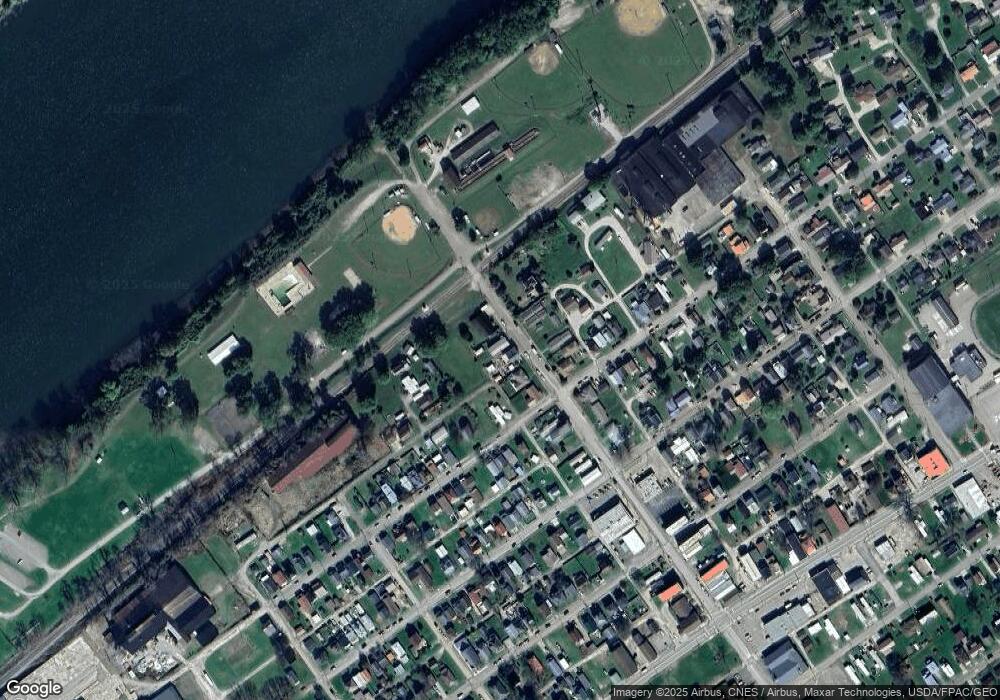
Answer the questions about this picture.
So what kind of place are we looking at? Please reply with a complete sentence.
What you see here is a residential area.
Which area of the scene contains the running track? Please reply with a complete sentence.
The running track is in the right part of the image.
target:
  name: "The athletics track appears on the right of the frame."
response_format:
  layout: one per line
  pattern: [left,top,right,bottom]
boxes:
[969,271,1000,363]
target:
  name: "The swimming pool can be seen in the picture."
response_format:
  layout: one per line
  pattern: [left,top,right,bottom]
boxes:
[257,263,313,316]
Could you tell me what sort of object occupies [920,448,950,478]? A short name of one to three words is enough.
building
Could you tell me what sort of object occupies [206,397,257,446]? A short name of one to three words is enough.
sports court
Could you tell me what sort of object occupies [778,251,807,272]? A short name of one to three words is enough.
house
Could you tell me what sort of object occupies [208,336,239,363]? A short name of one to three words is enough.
shed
